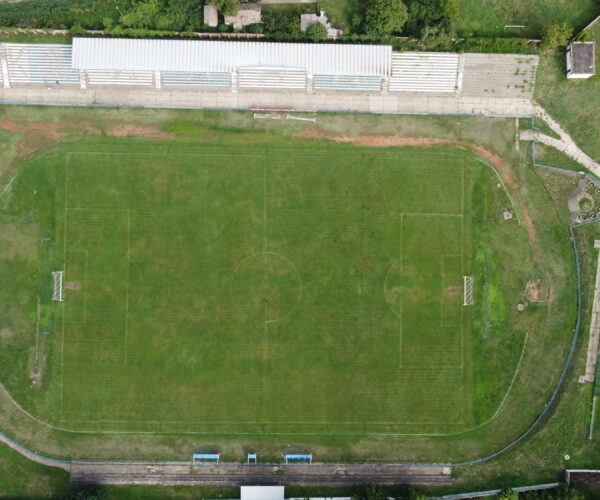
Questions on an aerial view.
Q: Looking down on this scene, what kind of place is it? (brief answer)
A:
sports ground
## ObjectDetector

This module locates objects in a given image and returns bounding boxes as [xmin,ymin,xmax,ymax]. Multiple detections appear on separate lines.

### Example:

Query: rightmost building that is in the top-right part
[567,41,596,78]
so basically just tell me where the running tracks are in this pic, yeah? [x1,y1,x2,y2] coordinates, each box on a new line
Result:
[0,117,570,461]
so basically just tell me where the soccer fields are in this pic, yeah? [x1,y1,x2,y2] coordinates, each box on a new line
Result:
[57,148,466,428]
